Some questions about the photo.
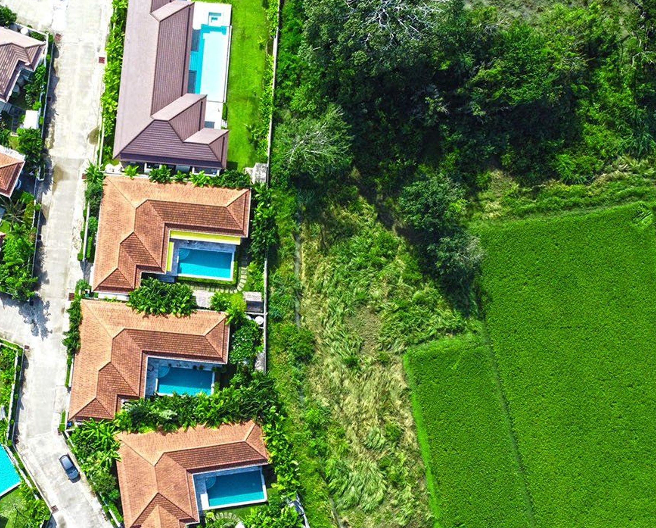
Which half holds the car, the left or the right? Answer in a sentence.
It is on the left.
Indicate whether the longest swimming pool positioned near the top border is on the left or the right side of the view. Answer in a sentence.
The longest swimming pool positioned near the top border sits on the left side.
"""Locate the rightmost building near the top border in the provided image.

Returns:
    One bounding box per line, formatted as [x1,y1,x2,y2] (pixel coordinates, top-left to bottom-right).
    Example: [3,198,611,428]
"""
[113,0,229,170]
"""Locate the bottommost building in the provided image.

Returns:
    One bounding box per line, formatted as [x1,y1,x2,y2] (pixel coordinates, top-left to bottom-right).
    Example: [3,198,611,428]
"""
[114,415,270,528]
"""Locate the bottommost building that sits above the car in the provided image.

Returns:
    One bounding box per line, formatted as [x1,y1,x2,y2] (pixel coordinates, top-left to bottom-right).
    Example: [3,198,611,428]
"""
[69,298,232,425]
